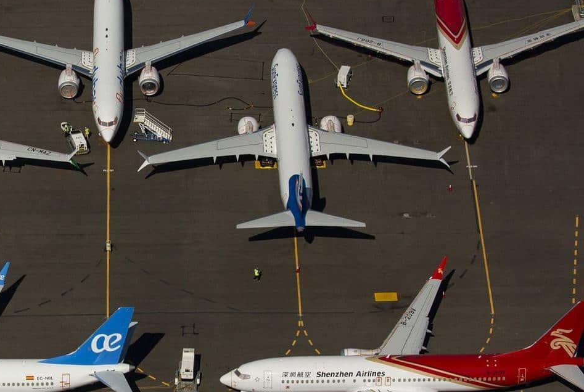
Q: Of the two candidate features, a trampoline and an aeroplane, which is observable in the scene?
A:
aeroplane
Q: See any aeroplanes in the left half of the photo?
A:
Yes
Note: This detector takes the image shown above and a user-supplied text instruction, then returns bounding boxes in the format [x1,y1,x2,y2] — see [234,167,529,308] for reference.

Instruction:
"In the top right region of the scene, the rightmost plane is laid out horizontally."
[304,0,584,140]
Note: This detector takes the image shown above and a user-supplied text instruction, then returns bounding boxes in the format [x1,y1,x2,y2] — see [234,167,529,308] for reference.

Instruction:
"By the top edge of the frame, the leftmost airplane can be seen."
[0,0,254,143]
